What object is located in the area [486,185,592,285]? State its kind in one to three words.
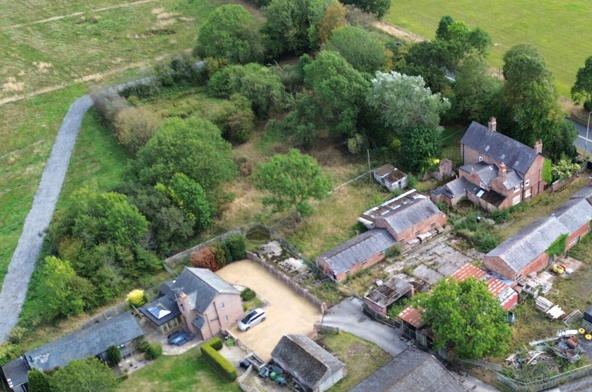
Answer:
shed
